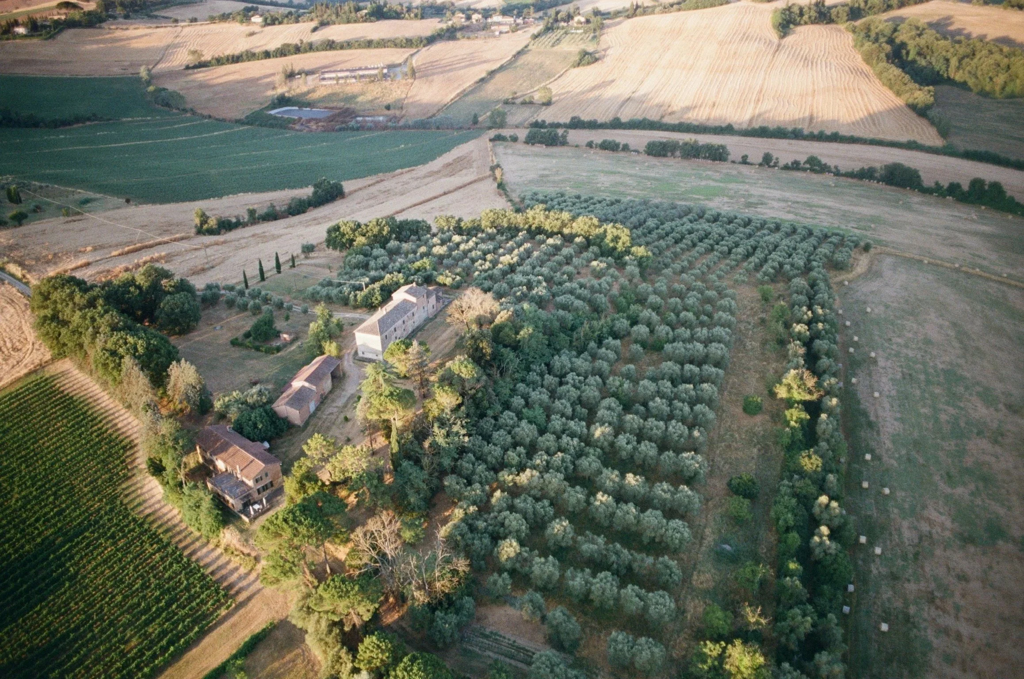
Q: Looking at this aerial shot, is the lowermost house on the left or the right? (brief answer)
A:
left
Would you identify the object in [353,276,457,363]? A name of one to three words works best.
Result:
house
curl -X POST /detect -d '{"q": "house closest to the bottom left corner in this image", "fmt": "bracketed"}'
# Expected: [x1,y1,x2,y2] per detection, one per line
[197,422,284,524]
